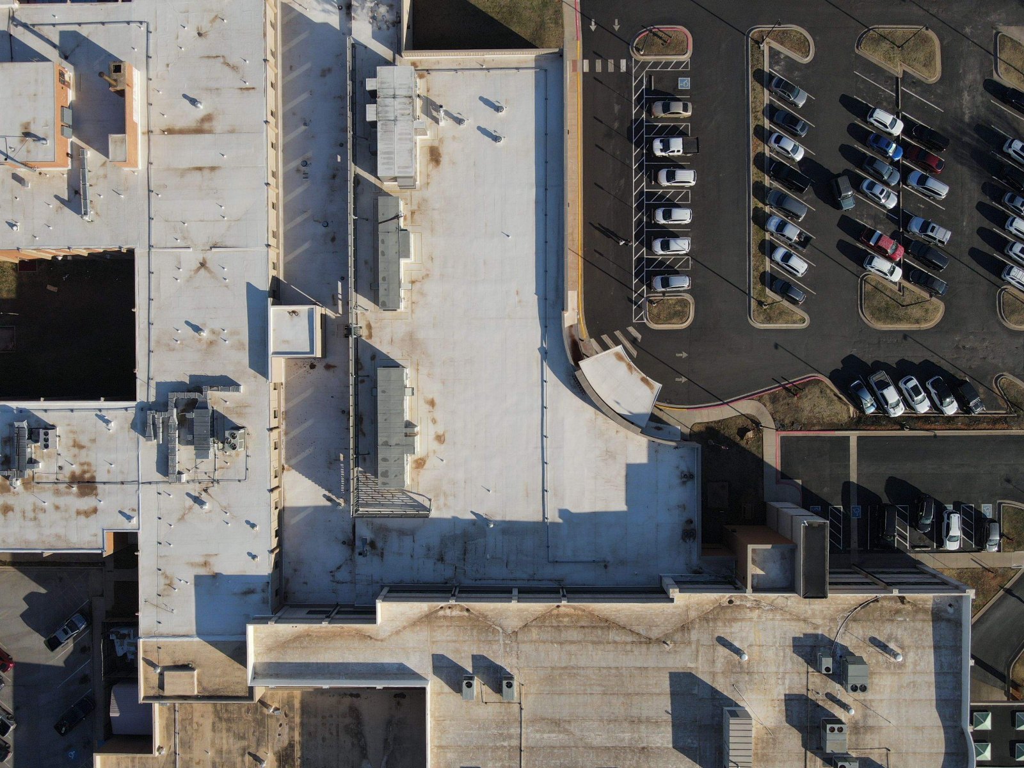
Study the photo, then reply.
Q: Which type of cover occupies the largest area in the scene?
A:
buildings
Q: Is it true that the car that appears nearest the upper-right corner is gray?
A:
No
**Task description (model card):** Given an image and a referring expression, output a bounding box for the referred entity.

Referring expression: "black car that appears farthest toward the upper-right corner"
[998,84,1024,116]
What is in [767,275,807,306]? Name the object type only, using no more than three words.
car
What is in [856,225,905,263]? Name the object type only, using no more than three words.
truck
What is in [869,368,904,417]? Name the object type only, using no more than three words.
truck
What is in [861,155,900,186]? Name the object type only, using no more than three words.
car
